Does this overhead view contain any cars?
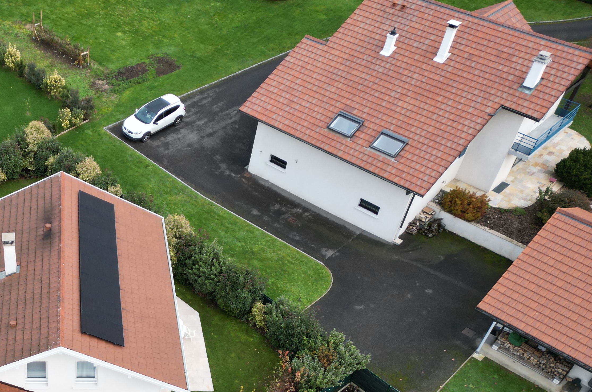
Yes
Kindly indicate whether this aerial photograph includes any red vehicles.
No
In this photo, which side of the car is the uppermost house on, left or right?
right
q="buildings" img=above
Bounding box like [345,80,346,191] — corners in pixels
[237,0,592,248]
[0,171,194,392]
[473,208,592,392]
